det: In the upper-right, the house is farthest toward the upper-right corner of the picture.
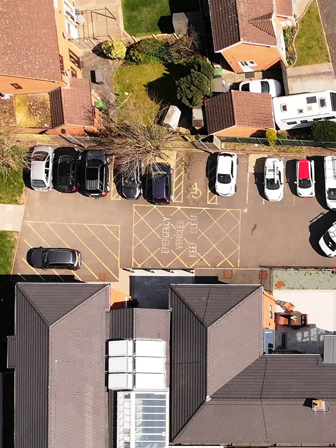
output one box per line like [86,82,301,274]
[208,0,301,77]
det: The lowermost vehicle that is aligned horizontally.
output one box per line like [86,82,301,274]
[28,244,84,272]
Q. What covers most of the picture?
buildings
